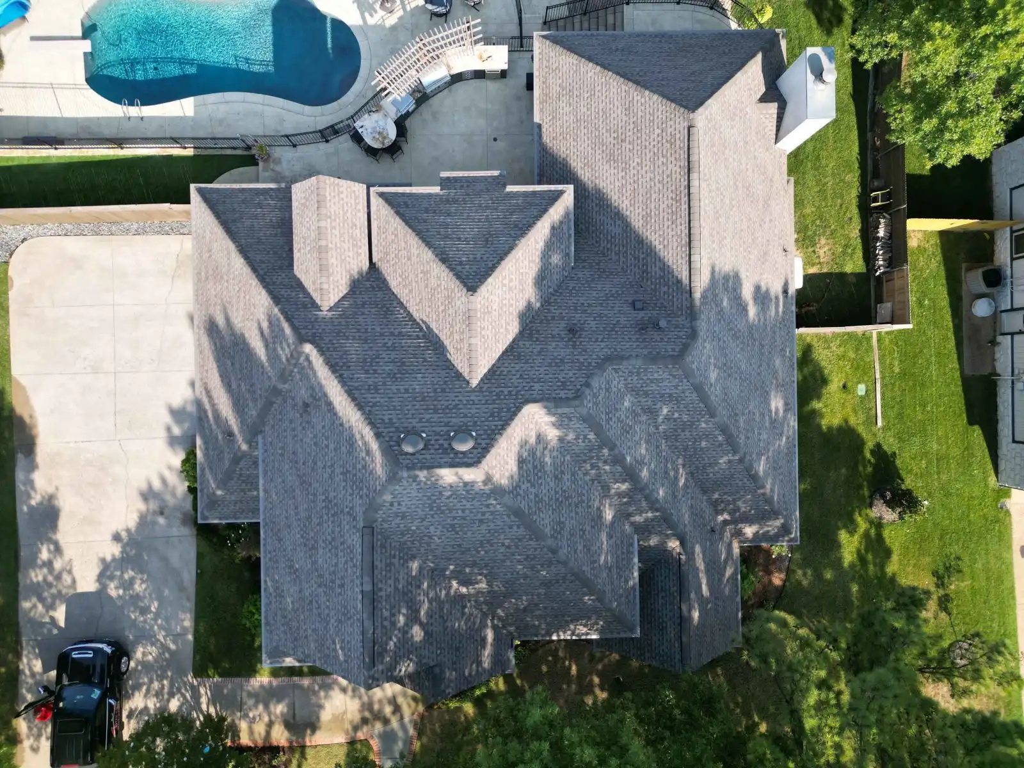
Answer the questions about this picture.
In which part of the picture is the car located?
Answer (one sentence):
The car sits in the bottom left section of the image.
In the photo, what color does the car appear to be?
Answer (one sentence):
The color of the car is black.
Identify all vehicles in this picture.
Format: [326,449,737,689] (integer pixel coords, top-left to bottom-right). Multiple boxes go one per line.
[33,634,127,768]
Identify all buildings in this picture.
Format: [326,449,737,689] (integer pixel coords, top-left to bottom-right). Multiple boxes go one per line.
[189,27,835,710]
[988,139,1024,505]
